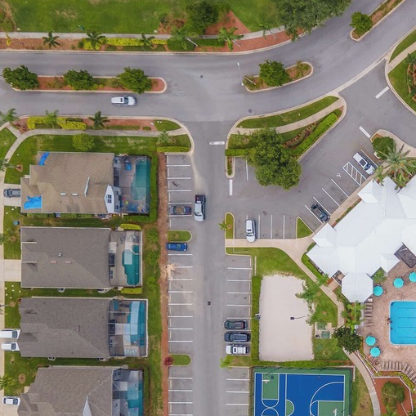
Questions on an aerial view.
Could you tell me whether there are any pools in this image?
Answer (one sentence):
Yes, looking at the shot, I can spot a pool.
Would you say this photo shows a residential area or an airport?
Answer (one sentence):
What you see here is a residential area.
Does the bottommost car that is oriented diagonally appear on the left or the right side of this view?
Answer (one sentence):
The bottommost car that is oriented diagonally sits on the right side.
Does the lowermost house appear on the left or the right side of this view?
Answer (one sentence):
The lowermost house appears in the left half of the scene.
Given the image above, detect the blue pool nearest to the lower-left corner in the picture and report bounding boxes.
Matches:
[126,380,142,416]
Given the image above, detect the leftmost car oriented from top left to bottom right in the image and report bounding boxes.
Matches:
[309,201,331,224]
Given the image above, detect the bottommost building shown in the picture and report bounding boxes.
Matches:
[17,367,120,416]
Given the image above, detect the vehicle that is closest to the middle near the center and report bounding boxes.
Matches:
[193,194,205,222]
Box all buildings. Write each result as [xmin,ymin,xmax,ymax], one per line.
[18,226,117,288]
[17,367,120,416]
[307,174,416,303]
[20,151,120,214]
[16,297,117,358]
